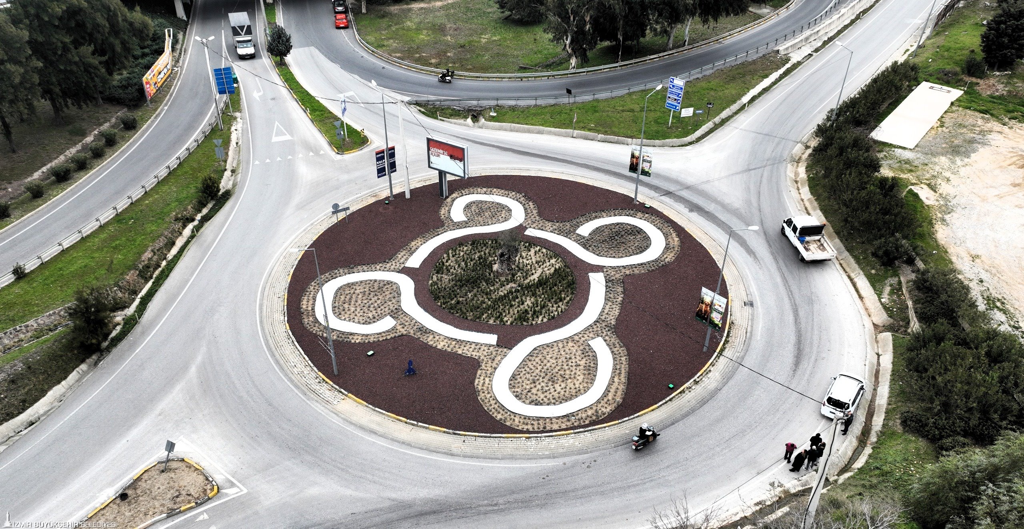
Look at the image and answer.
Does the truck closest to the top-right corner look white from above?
Yes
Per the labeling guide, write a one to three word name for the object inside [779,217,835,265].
truck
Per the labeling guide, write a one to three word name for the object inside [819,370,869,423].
car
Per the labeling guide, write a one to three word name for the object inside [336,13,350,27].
car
